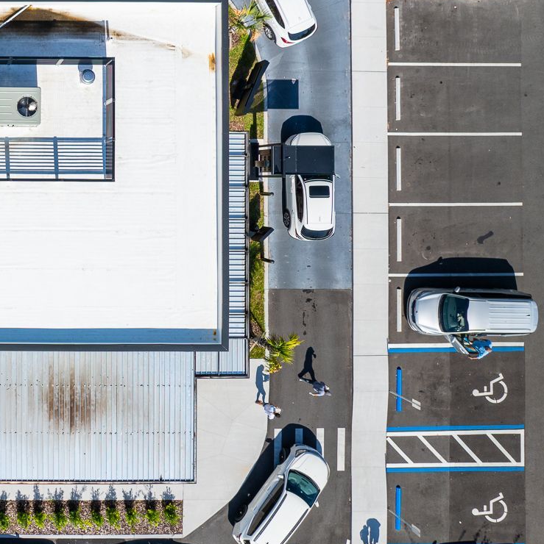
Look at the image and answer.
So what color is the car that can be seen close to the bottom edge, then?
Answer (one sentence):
The car that can be seen close to the bottom edge is white.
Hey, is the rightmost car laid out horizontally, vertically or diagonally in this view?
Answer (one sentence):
From this overhead view, the rightmost car appears to run horizontally.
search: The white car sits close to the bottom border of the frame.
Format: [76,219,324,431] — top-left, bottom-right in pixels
[231,444,328,544]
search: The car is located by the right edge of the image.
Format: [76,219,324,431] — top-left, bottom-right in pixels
[403,285,539,355]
